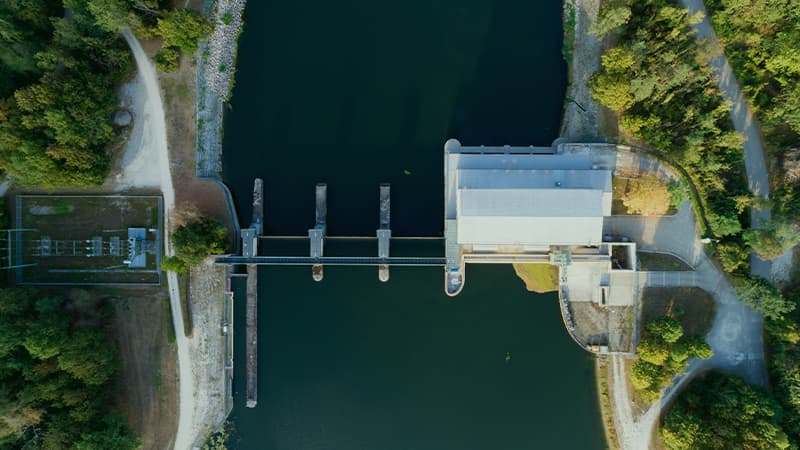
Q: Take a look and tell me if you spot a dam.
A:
Yes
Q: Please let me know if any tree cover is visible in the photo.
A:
Yes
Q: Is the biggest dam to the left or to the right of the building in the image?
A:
to the left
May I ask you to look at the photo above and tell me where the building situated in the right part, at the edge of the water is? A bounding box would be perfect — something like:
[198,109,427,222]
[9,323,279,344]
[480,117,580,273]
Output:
[445,140,617,295]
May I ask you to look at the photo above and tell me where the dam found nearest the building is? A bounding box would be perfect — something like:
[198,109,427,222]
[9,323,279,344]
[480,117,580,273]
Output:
[241,179,445,283]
